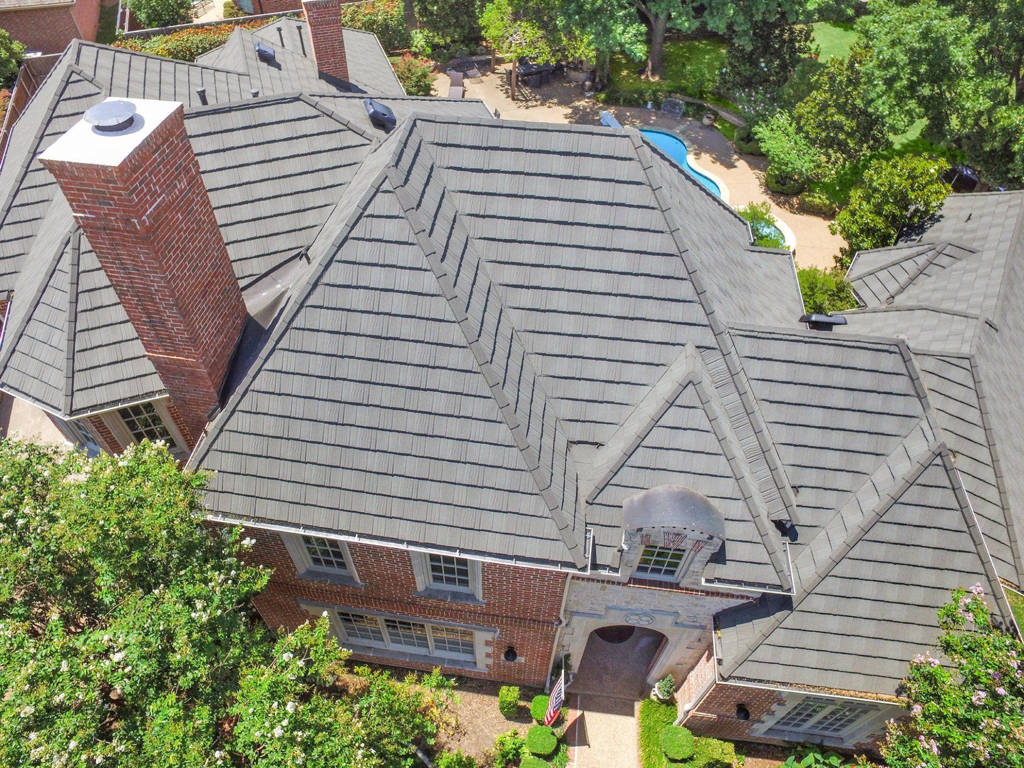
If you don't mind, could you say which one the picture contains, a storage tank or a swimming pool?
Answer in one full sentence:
Visible in the photo is a swimming pool.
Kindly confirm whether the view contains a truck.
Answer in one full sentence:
No, I can see no truck in this picture.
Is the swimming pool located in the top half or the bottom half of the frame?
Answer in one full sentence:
You can find the swimming pool in the top half.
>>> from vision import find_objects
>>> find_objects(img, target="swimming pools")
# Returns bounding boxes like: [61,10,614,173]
[639,130,714,190]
